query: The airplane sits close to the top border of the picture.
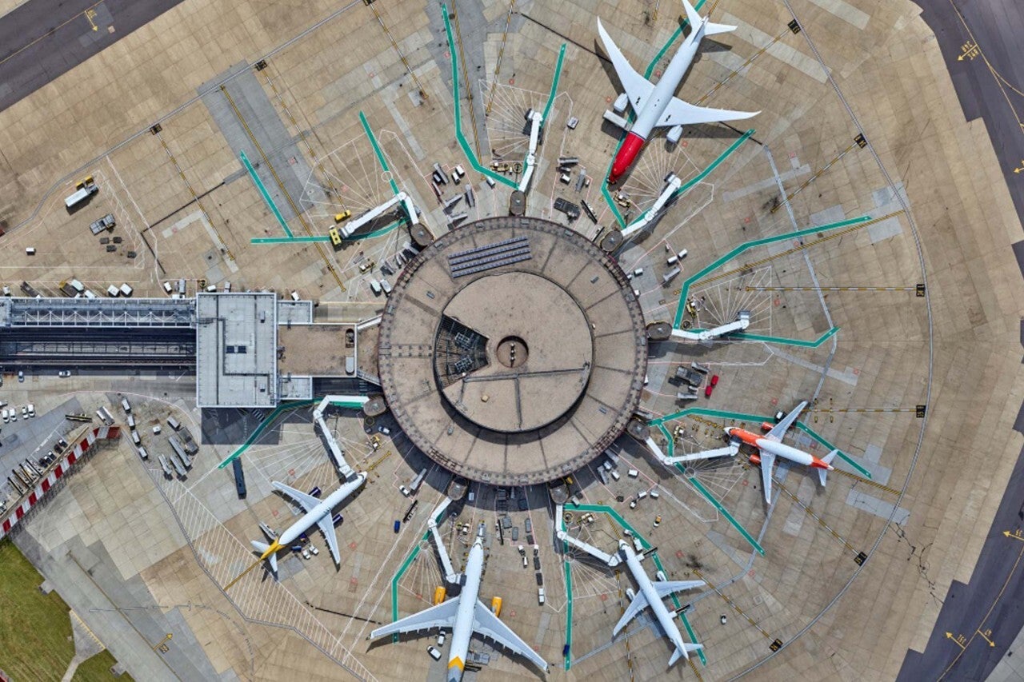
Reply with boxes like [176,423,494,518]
[600,0,760,183]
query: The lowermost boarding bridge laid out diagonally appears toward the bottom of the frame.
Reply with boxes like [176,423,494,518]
[549,476,628,567]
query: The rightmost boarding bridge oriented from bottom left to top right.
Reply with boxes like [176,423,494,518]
[599,168,683,254]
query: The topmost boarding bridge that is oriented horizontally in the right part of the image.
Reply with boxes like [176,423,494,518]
[645,309,751,342]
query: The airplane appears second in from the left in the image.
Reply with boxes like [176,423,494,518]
[372,538,547,682]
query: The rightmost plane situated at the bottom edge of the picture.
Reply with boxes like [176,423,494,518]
[615,540,706,669]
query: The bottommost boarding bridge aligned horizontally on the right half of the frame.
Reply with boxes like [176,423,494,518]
[625,419,743,467]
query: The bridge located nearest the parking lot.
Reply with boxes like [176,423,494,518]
[0,328,196,365]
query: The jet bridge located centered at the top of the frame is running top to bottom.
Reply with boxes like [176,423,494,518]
[511,109,542,217]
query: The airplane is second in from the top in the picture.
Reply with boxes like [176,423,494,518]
[725,403,840,506]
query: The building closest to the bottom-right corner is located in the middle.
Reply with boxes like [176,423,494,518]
[378,217,647,485]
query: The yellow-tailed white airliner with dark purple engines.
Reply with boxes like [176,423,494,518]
[249,473,366,572]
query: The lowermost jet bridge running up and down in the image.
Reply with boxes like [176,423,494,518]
[428,476,469,588]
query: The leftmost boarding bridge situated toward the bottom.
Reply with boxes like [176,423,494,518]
[312,393,388,486]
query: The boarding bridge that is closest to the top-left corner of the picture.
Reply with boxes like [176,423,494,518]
[336,190,434,249]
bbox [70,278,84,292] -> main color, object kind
white vehicle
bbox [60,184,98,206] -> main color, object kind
white truck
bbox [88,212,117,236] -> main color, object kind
gray work vehicle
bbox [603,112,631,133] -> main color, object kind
white truck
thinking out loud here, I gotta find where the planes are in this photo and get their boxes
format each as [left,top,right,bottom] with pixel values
[372,538,547,682]
[600,0,760,183]
[615,540,706,669]
[249,473,366,572]
[725,403,840,506]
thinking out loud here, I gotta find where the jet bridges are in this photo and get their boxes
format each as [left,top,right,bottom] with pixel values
[312,393,388,486]
[511,109,542,217]
[428,476,469,588]
[336,190,434,249]
[549,476,628,567]
[599,168,683,254]
[645,309,751,342]
[625,419,743,467]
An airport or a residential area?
airport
